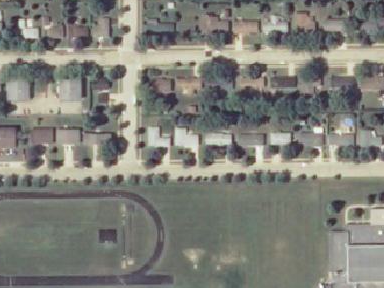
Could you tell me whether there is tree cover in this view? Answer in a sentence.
Yes, tree cover shows up in the scene.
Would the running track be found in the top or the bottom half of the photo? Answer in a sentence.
The bottom half of the photo is where the running track is.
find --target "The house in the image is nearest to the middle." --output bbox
[174,127,198,151]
